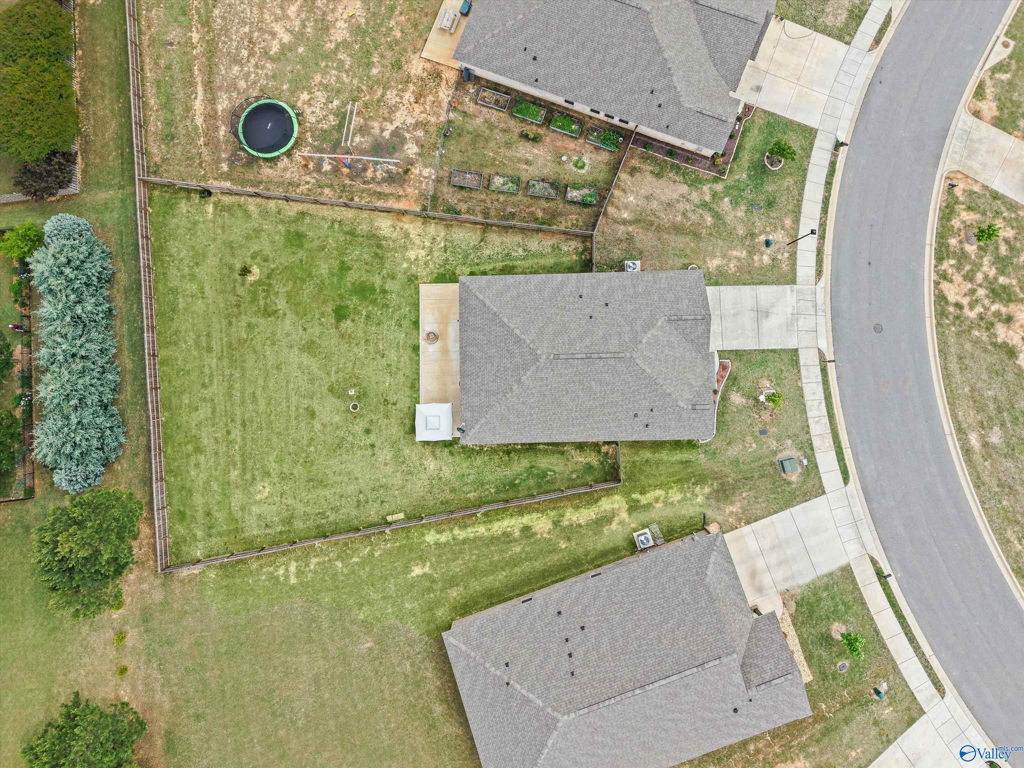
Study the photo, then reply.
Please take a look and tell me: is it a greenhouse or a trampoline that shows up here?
trampoline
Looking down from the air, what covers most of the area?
grass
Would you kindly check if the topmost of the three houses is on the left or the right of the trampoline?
right of it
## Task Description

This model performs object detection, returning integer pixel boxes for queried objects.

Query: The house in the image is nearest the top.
[452,0,773,157]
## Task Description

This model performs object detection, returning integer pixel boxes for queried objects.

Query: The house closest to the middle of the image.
[457,269,719,446]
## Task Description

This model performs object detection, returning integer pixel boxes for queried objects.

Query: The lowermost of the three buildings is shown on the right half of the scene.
[440,514,813,768]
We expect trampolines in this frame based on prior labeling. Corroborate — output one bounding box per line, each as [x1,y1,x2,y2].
[230,89,303,161]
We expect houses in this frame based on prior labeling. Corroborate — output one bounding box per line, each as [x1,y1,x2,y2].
[452,0,773,157]
[457,269,719,446]
[440,514,813,768]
